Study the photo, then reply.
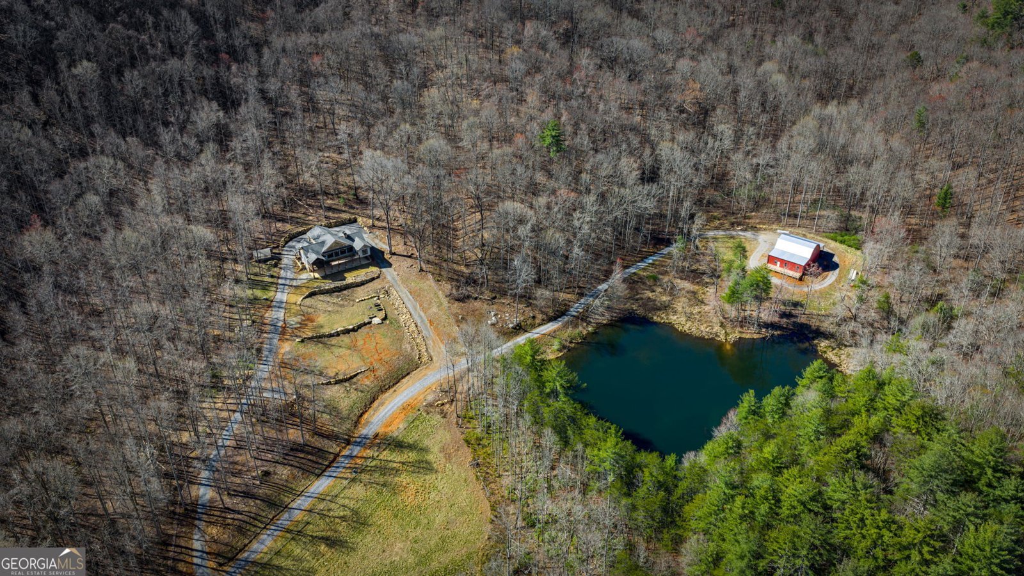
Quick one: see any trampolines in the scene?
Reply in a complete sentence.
No, the scene contains no trampoline.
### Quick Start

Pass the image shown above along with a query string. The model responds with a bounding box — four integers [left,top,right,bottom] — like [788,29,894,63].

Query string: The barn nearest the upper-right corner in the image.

[767,233,821,280]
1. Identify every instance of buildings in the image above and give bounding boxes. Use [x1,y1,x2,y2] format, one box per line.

[298,223,372,278]
[251,247,273,264]
[767,233,821,280]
